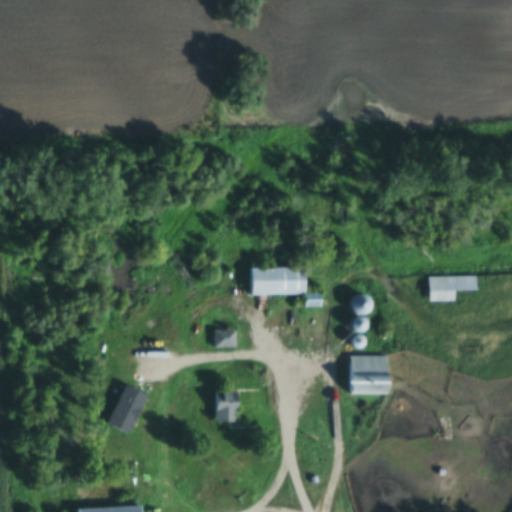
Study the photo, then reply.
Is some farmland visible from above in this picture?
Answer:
Yes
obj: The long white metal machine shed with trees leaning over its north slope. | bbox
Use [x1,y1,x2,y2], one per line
[248,264,306,296]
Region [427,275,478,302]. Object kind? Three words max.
shed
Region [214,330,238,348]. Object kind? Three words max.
building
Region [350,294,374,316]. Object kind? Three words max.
silo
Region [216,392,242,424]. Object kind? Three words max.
house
